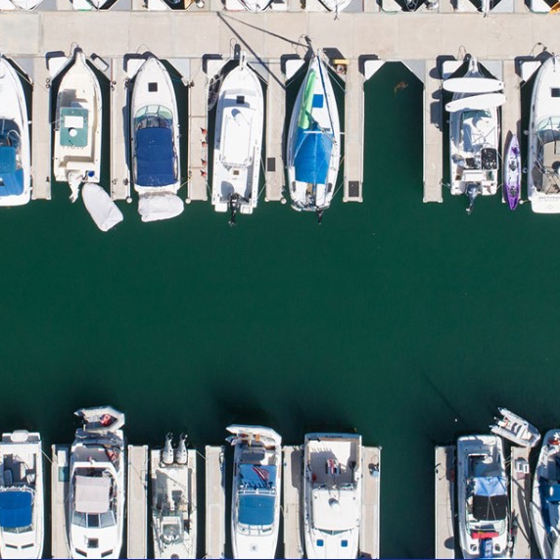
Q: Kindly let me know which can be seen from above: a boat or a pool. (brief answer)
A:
boat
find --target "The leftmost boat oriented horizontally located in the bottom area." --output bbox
[73,406,125,431]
